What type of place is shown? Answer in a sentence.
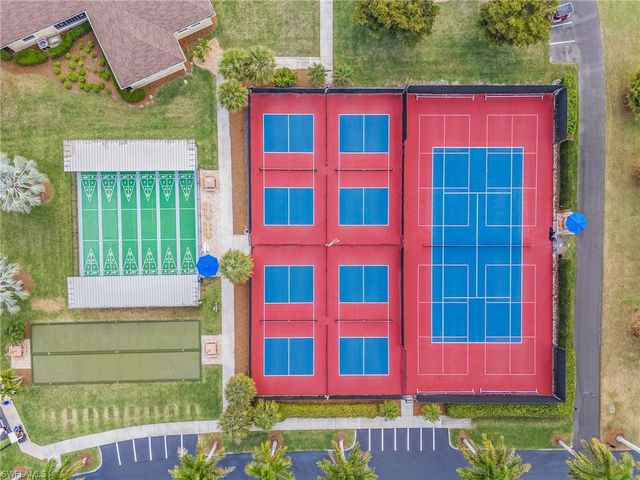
The area seen from above is a sports ground.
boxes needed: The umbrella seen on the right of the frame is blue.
[565,212,586,233]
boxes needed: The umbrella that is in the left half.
[196,254,219,277]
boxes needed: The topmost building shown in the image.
[0,0,218,91]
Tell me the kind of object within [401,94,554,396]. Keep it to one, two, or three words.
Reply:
tennis court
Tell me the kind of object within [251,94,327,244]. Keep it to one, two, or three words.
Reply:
sports court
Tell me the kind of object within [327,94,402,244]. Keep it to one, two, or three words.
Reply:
sports court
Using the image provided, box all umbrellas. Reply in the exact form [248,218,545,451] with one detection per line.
[196,254,219,277]
[565,212,586,233]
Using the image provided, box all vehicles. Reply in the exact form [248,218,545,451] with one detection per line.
[8,424,31,442]
[0,419,16,436]
[548,2,576,24]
